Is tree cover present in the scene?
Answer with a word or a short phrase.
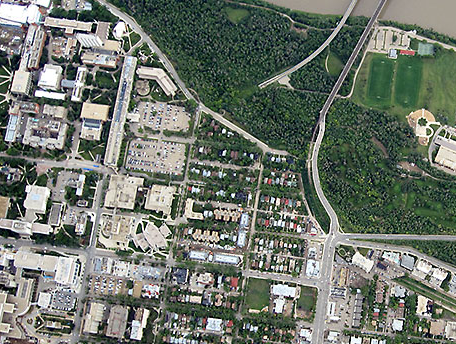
Yes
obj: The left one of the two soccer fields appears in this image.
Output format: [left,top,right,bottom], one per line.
[368,58,393,98]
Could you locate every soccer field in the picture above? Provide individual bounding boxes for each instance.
[394,61,422,108]
[368,58,393,98]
